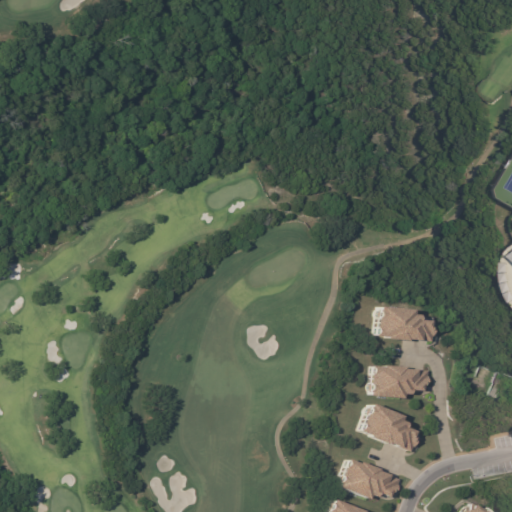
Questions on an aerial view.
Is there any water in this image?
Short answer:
No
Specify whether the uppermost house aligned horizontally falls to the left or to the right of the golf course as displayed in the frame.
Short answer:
on the right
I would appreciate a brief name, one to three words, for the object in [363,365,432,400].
house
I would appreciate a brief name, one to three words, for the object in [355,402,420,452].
house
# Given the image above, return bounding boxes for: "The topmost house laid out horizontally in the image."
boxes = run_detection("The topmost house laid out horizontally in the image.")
[372,307,438,342]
